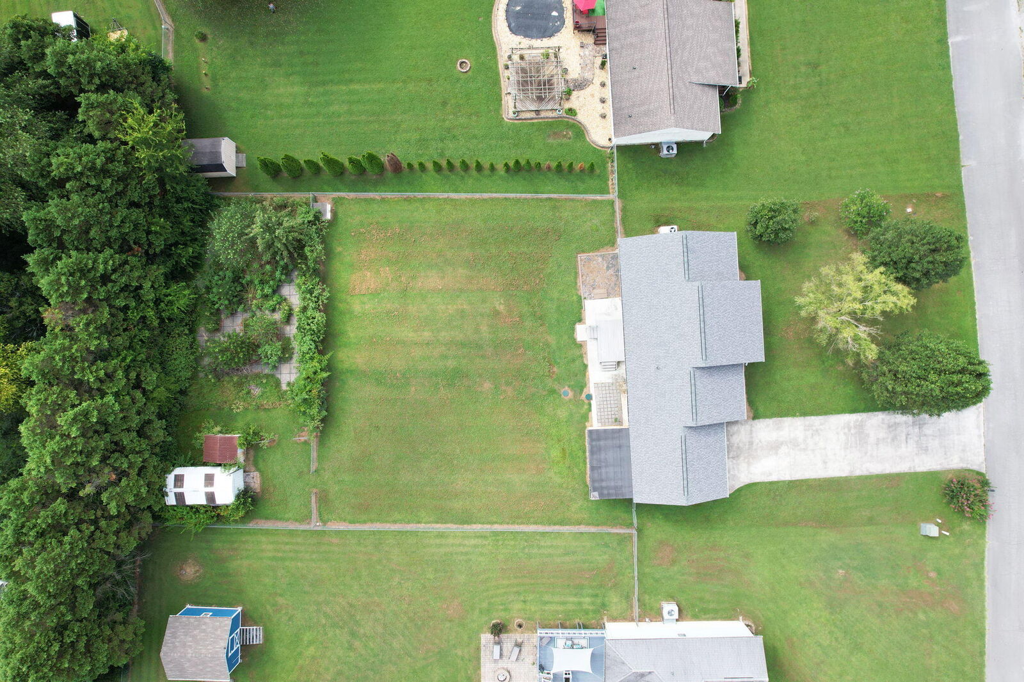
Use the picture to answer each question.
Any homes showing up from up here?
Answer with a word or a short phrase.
Yes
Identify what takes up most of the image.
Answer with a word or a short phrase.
grass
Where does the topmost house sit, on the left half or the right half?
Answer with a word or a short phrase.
right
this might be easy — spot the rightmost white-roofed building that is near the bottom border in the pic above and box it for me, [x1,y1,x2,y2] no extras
[604,614,768,682]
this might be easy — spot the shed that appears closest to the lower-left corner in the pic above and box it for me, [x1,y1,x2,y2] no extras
[160,606,242,681]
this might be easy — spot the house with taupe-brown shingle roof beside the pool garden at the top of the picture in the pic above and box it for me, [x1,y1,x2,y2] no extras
[604,0,739,146]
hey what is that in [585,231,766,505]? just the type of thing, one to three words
house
